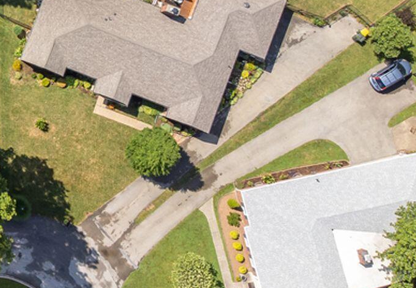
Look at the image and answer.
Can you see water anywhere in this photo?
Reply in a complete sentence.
No, water can't be seen anywhere here.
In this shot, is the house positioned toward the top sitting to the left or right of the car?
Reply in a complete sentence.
In the image, the house positioned toward the top sits on the left side of the car.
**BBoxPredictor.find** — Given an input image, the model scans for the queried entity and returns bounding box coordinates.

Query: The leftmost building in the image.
[20,0,288,134]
